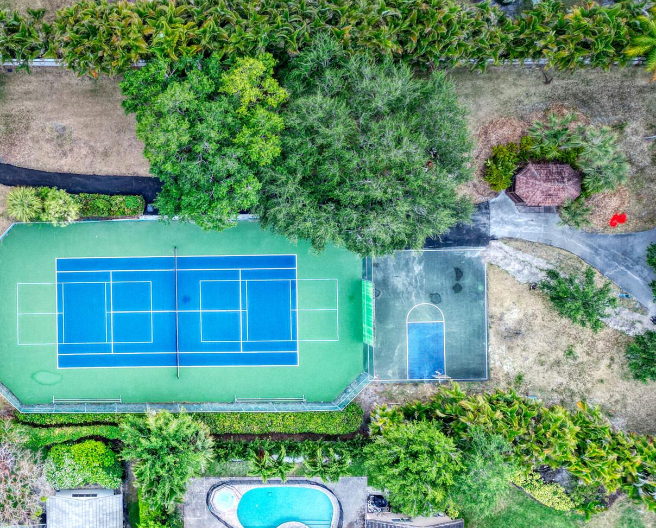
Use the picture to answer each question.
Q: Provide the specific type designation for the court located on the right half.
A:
basketball court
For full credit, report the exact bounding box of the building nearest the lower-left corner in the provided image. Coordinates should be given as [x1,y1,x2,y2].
[47,490,124,528]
